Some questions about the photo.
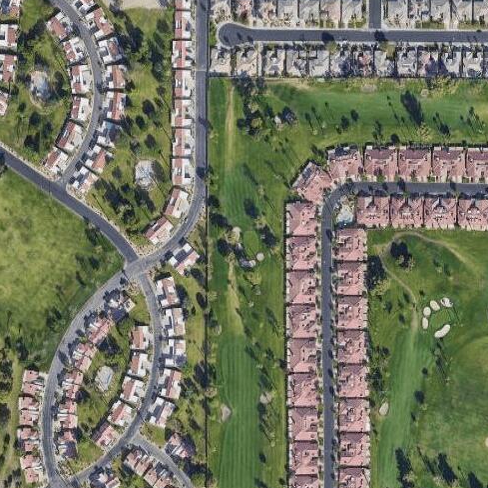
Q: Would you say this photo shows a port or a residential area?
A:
residential area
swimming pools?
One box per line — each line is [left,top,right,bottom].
[135,159,155,189]
[29,69,47,99]
[95,365,113,390]
[338,204,356,228]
